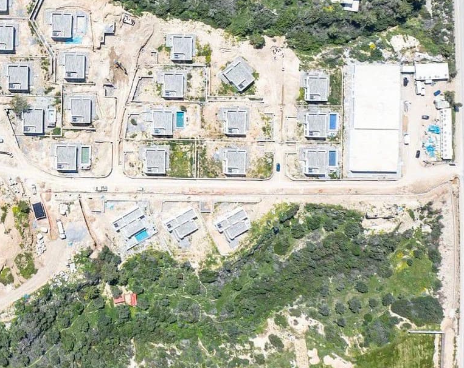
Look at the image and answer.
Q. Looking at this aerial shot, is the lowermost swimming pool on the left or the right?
left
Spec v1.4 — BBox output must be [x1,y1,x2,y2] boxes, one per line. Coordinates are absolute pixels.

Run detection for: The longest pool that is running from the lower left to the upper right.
[122,223,157,248]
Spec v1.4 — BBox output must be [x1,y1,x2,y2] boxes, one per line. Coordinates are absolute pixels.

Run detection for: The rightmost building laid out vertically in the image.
[438,109,453,160]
